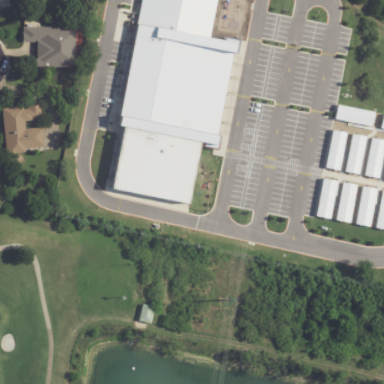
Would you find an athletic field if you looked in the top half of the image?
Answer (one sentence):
No, I can find no athletic field in the top half of the image.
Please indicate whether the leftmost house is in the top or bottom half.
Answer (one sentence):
The leftmost house is in the top half of the image.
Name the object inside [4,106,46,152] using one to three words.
house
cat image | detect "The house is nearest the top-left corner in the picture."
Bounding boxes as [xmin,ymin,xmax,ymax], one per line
[24,27,76,66]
